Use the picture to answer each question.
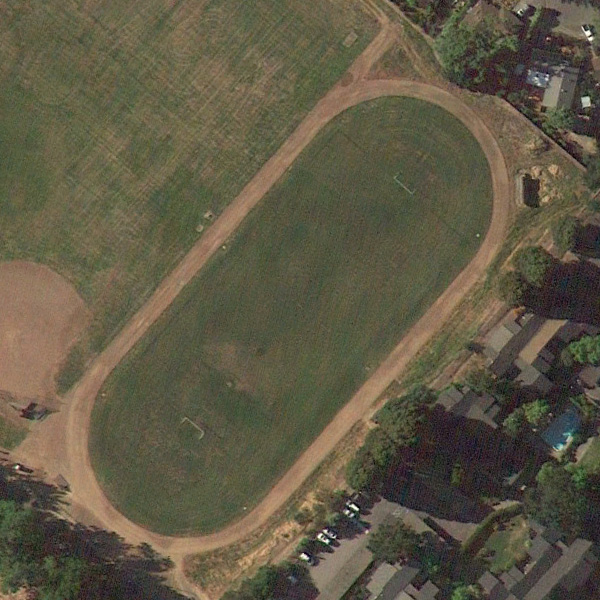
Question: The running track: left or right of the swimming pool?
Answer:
to the left of it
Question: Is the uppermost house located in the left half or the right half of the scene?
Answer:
right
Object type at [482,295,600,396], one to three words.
house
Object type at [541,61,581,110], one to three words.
house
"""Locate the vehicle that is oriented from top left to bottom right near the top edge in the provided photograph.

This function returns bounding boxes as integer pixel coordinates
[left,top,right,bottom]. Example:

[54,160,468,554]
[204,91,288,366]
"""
[581,23,595,42]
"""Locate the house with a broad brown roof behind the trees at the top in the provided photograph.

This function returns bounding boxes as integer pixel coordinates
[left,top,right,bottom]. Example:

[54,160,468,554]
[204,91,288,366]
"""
[466,0,529,40]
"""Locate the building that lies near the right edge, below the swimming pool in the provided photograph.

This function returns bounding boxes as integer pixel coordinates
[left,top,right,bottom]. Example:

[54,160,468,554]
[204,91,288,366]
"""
[469,516,600,600]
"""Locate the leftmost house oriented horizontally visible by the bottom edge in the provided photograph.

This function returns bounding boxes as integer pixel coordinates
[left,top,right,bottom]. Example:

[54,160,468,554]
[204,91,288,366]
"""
[357,559,451,600]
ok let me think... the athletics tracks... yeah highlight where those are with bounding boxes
[65,77,510,555]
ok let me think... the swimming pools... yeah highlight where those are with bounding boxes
[541,408,583,452]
